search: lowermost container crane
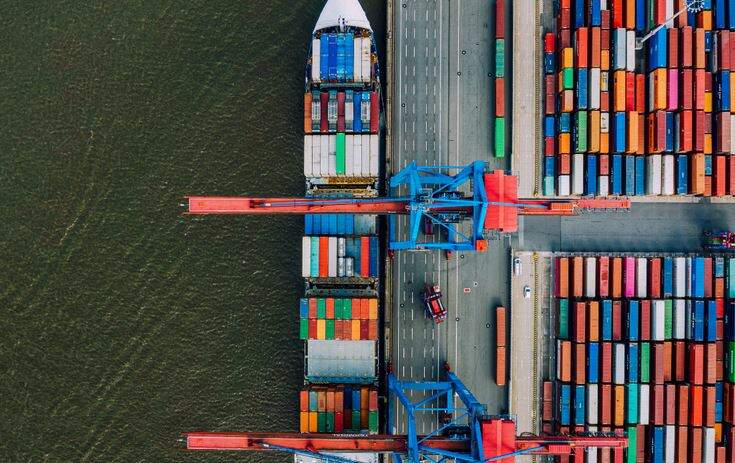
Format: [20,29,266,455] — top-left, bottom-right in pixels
[179,359,629,463]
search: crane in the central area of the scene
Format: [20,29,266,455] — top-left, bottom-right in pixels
[179,158,630,258]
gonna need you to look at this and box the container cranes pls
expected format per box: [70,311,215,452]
[179,359,629,463]
[179,158,630,258]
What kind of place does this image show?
port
